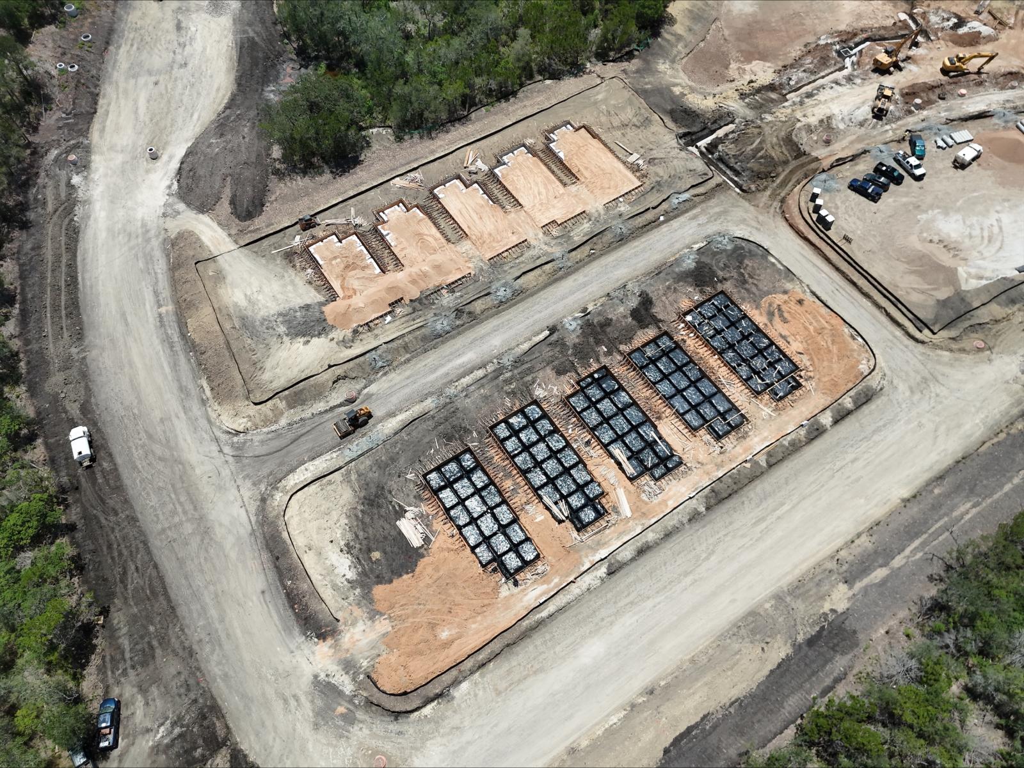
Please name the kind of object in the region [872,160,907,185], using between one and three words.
truck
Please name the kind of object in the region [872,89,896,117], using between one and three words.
work vehicle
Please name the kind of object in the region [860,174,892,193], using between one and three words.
car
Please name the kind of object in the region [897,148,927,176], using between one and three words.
truck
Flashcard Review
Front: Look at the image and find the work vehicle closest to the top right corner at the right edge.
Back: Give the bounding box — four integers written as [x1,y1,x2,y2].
[938,45,997,80]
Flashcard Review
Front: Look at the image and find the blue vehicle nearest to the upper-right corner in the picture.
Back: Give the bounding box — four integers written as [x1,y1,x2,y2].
[908,134,927,159]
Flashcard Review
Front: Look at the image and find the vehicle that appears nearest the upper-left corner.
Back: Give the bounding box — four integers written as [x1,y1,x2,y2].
[301,213,326,229]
